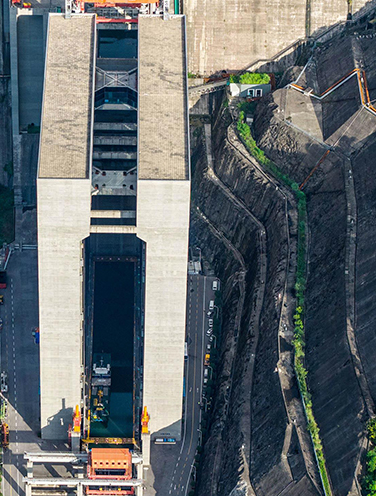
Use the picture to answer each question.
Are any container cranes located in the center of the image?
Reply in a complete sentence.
No, no container crane appears in the center of the image.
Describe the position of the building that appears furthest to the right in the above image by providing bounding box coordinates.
[230,70,270,98]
